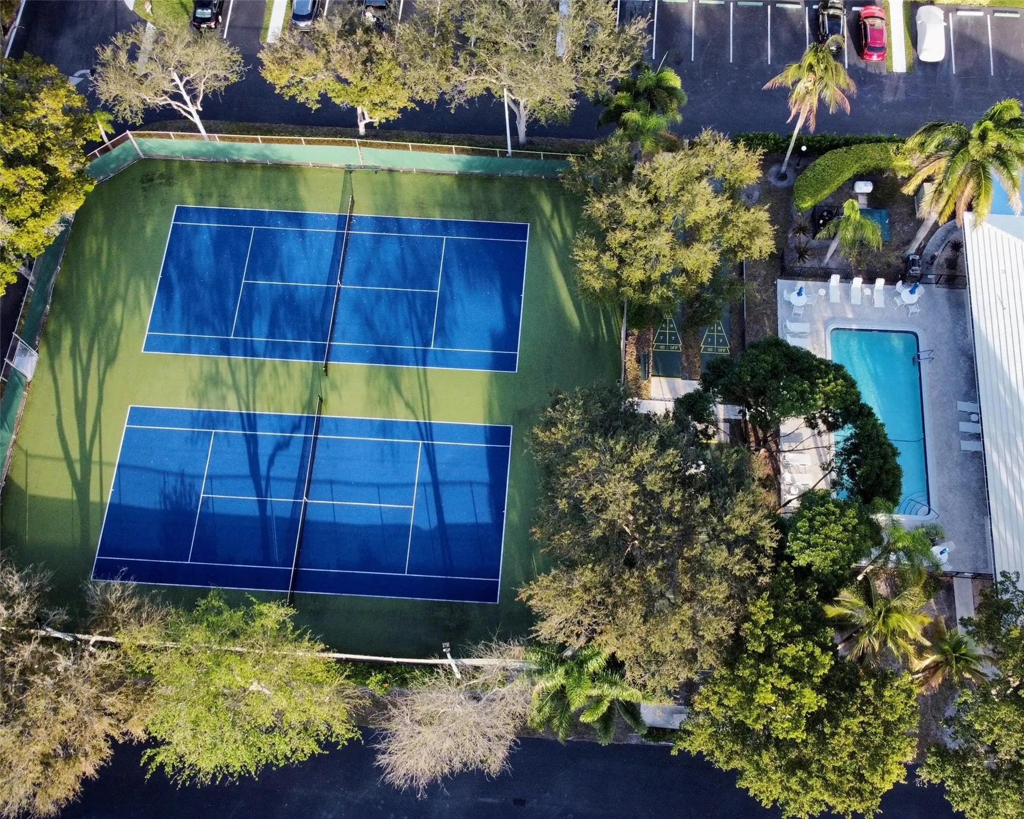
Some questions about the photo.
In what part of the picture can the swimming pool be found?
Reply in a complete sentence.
The swimming pool appears toward the right of the photo.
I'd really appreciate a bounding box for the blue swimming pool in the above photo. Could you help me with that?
[825,324,940,520]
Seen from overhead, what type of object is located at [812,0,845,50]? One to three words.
car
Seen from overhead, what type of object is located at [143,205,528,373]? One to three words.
tennis court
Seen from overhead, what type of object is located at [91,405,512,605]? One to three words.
tennis court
